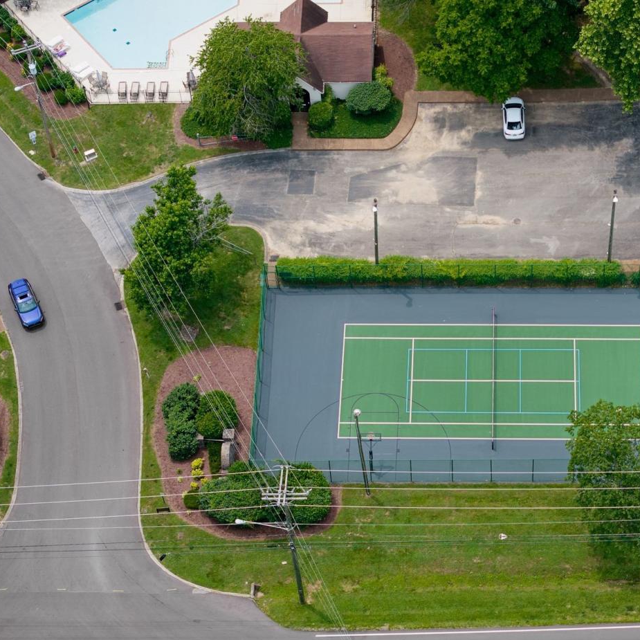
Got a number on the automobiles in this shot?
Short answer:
2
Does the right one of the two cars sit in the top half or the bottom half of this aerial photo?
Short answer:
top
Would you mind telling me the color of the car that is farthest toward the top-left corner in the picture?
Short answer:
blue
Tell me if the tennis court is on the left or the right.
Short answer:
right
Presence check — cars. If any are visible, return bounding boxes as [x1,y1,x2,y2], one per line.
[501,98,526,142]
[8,279,45,331]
